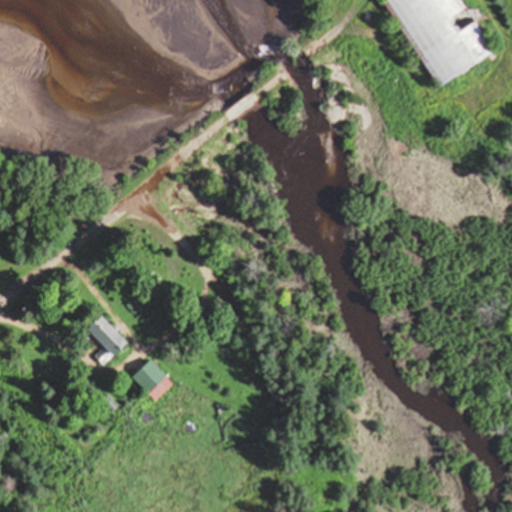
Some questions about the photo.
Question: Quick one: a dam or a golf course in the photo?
dam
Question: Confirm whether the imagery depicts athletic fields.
No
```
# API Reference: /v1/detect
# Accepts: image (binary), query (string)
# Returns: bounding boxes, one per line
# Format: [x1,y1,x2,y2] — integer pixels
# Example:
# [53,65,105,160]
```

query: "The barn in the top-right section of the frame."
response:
[386,0,498,87]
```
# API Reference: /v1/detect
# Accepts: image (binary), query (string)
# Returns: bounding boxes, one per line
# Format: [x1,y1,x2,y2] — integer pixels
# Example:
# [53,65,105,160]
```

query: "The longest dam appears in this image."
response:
[97,70,293,228]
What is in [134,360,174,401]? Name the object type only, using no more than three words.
building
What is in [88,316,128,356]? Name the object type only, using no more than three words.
house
